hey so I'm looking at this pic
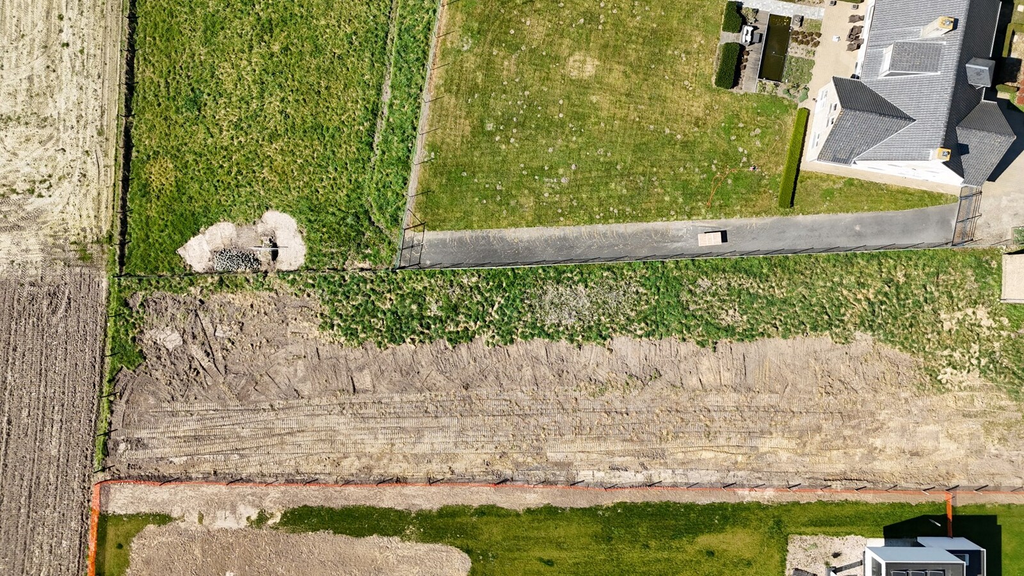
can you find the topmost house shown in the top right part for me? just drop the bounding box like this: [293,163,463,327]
[805,0,1015,186]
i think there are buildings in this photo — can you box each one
[805,0,1015,186]
[863,537,984,576]
[1001,252,1024,304]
